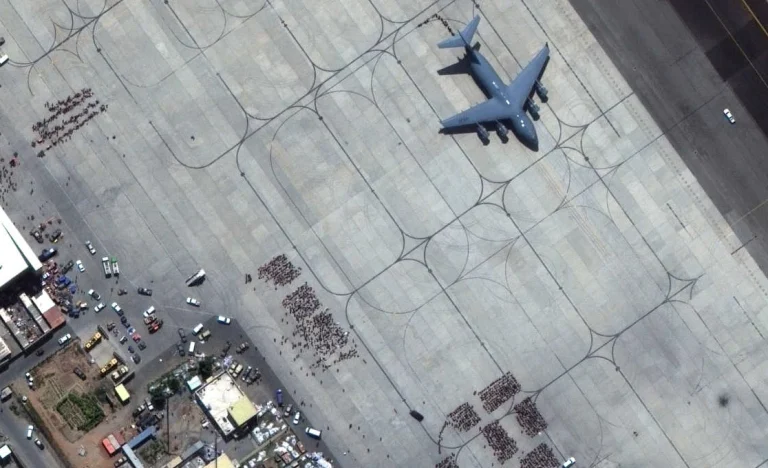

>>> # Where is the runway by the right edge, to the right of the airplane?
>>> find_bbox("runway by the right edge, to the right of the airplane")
[668,0,768,140]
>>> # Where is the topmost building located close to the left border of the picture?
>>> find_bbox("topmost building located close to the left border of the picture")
[0,206,43,290]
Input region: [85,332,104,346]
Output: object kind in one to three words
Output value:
work vehicle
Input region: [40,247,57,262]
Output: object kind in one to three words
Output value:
vehicle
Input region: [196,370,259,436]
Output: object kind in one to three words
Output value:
building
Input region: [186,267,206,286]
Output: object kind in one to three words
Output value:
vehicle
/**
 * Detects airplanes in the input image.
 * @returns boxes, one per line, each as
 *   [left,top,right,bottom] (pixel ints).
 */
[436,16,550,147]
